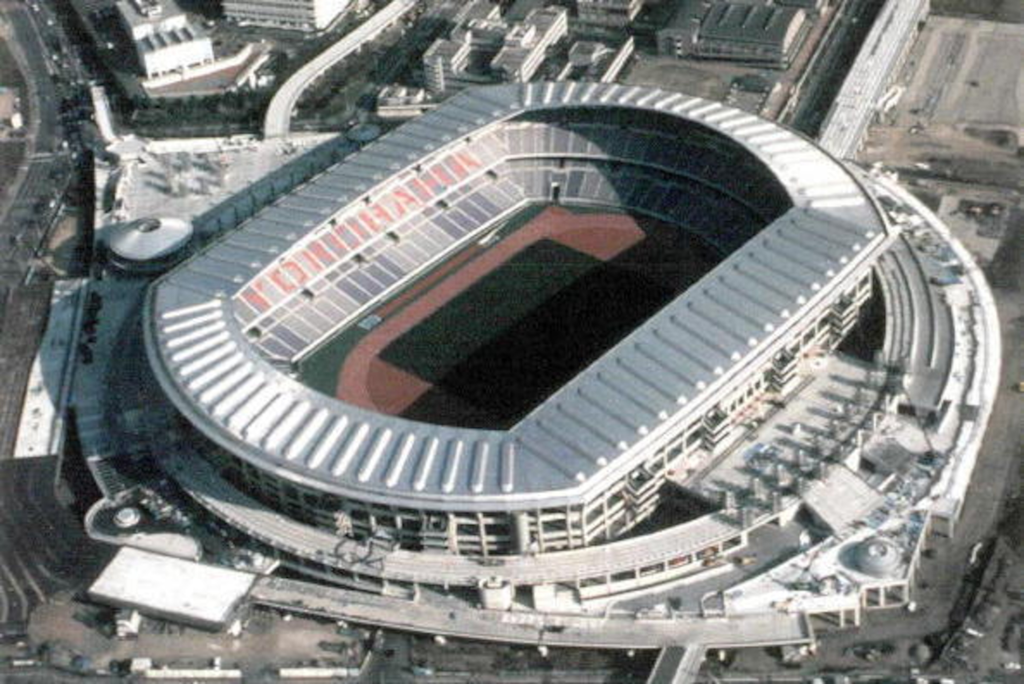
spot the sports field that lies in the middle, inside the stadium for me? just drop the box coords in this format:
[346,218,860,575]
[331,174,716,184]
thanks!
[377,238,674,422]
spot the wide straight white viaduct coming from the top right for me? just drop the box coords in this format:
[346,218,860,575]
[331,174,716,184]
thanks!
[818,0,929,165]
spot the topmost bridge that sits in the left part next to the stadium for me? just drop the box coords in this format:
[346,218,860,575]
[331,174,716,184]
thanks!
[264,0,417,137]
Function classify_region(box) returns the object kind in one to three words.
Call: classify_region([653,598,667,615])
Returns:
vehicle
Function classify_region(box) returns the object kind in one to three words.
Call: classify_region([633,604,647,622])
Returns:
vehicle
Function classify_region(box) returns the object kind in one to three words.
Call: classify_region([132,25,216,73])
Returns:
building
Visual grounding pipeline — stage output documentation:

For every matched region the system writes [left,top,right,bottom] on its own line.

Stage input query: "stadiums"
[151,83,887,559]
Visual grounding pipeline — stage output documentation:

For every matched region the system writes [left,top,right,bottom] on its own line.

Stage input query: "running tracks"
[338,215,703,430]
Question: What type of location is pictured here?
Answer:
sports ground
